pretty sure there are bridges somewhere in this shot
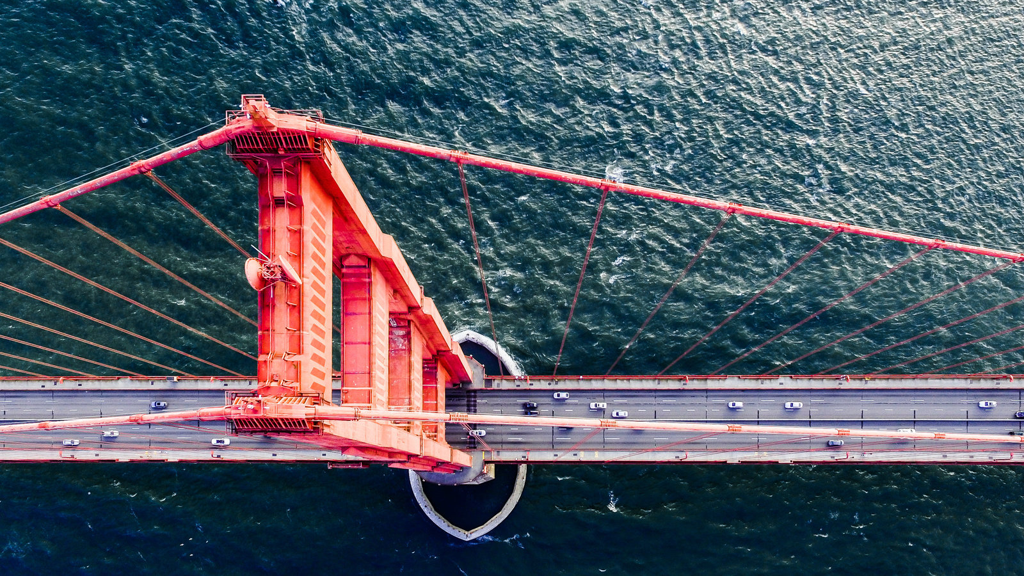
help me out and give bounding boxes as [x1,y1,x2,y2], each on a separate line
[0,94,1024,484]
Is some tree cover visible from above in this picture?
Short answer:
No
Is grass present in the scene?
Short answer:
No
